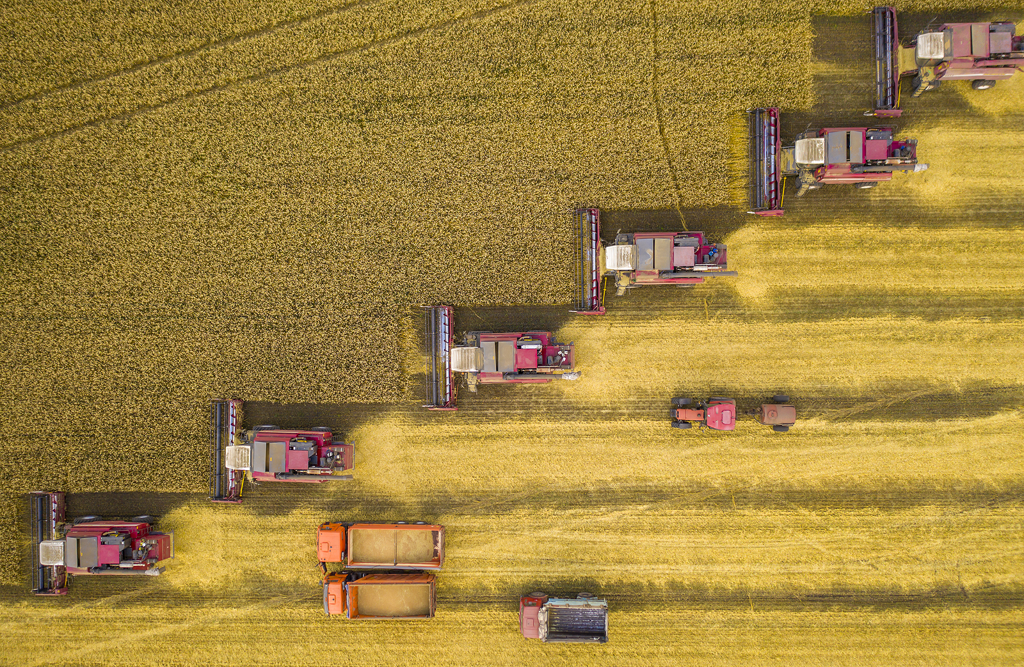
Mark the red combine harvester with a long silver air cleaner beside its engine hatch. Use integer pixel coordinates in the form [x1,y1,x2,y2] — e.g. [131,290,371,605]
[422,303,577,410]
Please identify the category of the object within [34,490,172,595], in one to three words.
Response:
work vehicle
